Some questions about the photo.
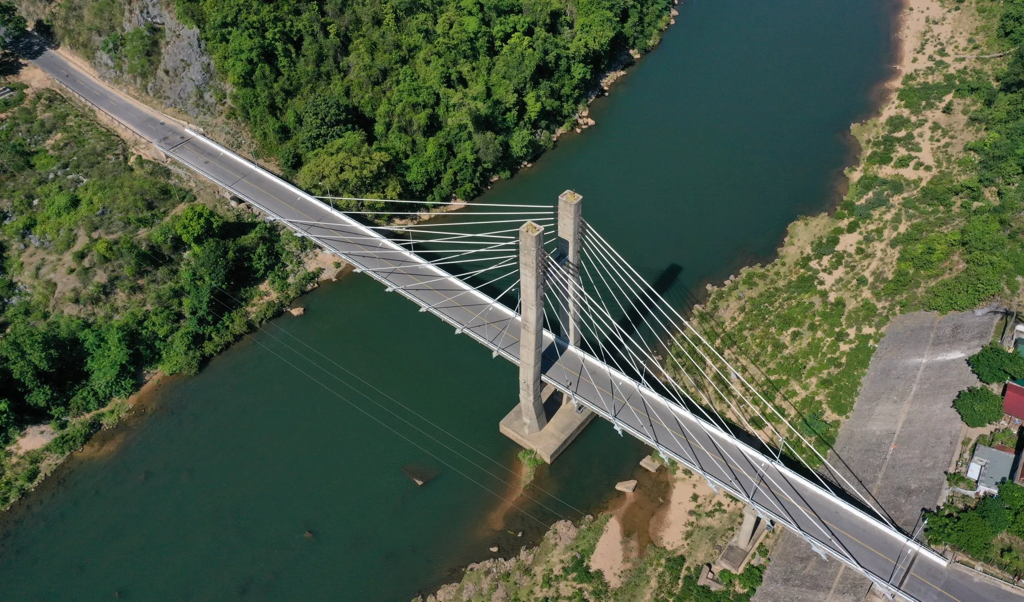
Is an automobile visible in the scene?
No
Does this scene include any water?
Yes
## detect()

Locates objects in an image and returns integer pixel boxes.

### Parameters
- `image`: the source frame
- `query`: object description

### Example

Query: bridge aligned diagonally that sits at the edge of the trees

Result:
[151,127,951,602]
